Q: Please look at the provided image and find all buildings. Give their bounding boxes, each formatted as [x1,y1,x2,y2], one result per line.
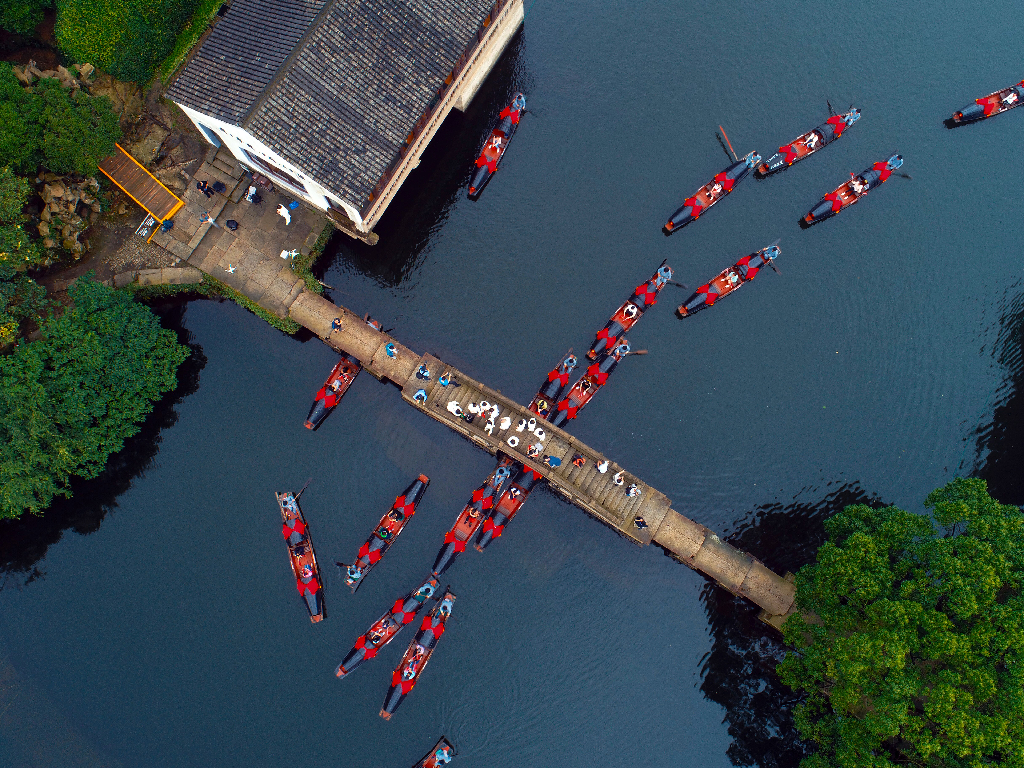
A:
[163,0,524,265]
